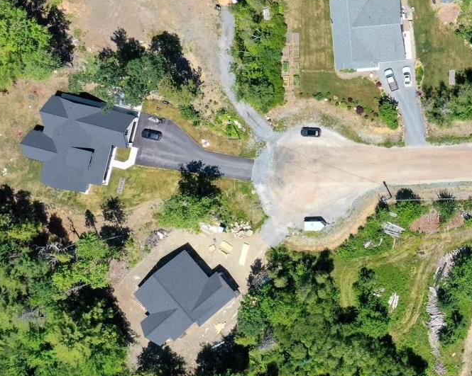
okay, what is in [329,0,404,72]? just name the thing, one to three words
house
